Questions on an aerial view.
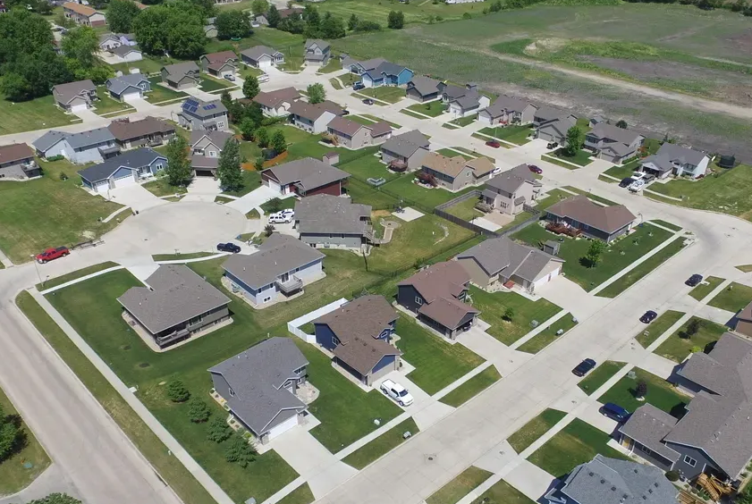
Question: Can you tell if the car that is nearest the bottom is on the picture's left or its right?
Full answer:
The car that is nearest the bottom is on the right side of the image.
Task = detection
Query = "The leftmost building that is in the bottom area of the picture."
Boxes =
[116,265,231,359]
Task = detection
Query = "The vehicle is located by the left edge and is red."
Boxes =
[36,248,72,265]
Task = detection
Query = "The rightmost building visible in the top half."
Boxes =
[638,143,709,182]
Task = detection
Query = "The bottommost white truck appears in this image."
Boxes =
[379,376,416,407]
